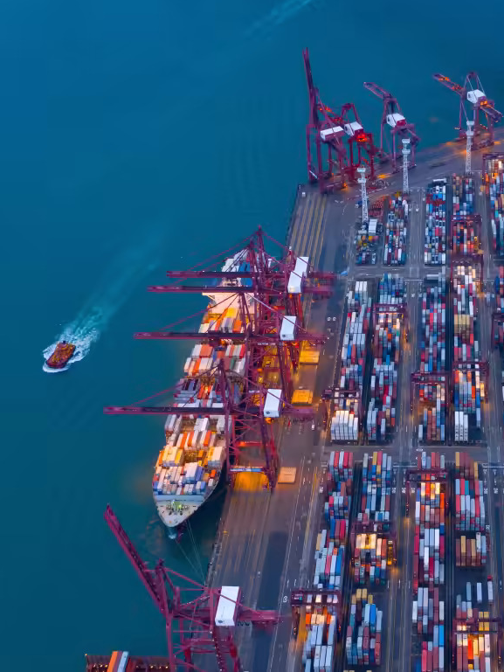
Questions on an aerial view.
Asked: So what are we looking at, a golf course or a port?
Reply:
port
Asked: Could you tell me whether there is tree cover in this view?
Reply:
No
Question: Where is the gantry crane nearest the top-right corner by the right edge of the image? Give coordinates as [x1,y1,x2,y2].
[431,69,498,151]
